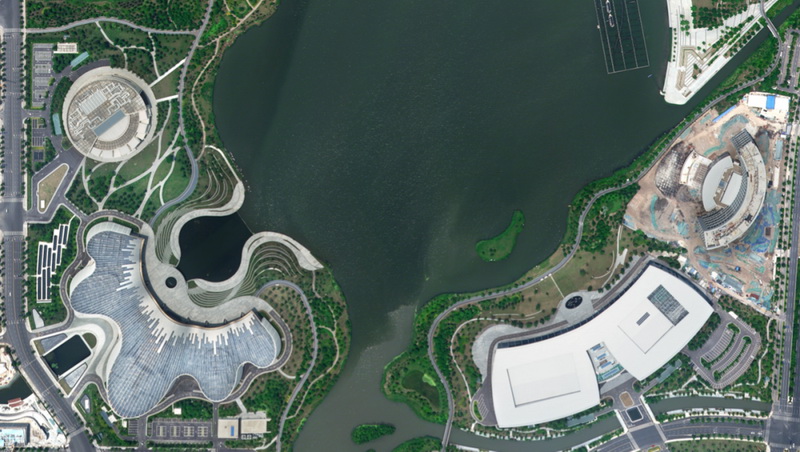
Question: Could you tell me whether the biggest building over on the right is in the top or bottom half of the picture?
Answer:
bottom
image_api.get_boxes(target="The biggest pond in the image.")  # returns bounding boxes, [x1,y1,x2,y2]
[178,209,252,282]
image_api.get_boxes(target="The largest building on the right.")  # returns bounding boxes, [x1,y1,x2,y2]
[492,262,717,427]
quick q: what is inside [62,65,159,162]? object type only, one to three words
building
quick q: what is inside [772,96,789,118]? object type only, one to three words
building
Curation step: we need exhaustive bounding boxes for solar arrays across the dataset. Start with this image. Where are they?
[28,215,76,303]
